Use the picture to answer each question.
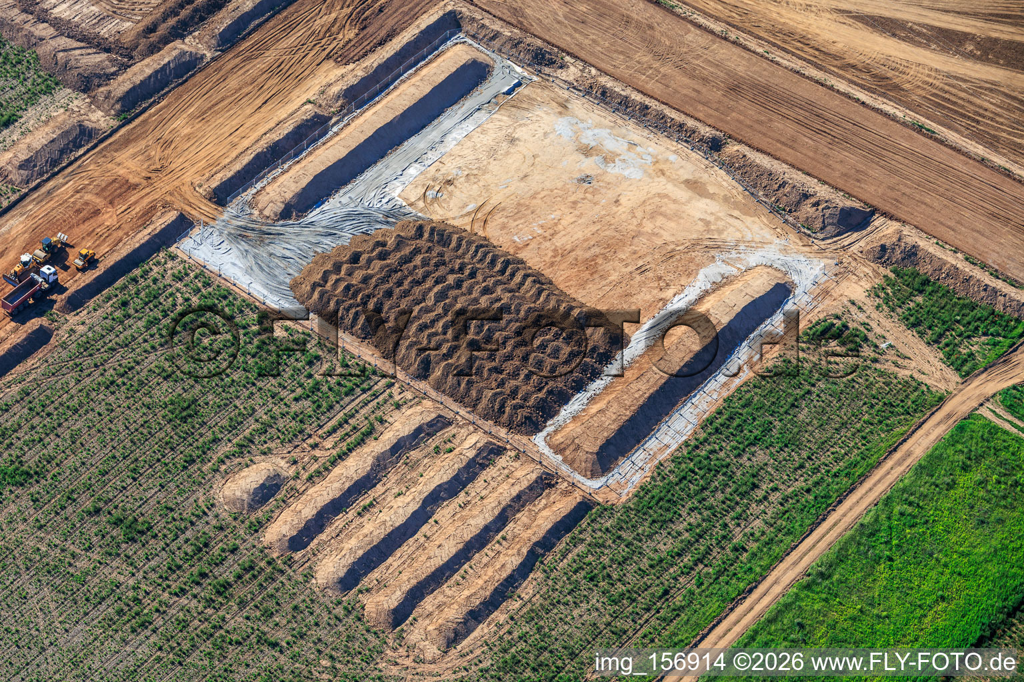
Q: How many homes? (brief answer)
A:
0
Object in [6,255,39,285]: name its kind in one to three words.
work vehicle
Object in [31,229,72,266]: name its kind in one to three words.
work vehicle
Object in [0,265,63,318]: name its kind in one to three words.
truck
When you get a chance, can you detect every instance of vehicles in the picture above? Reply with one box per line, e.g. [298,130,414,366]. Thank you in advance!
[31,229,72,266]
[70,248,94,269]
[0,265,63,318]
[6,255,39,285]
